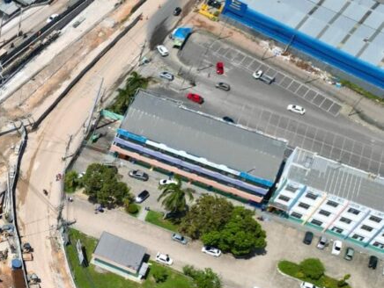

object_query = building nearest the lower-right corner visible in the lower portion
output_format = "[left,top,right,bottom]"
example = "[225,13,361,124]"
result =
[265,145,384,257]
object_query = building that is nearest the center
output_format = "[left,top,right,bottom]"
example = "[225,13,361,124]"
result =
[111,89,292,204]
